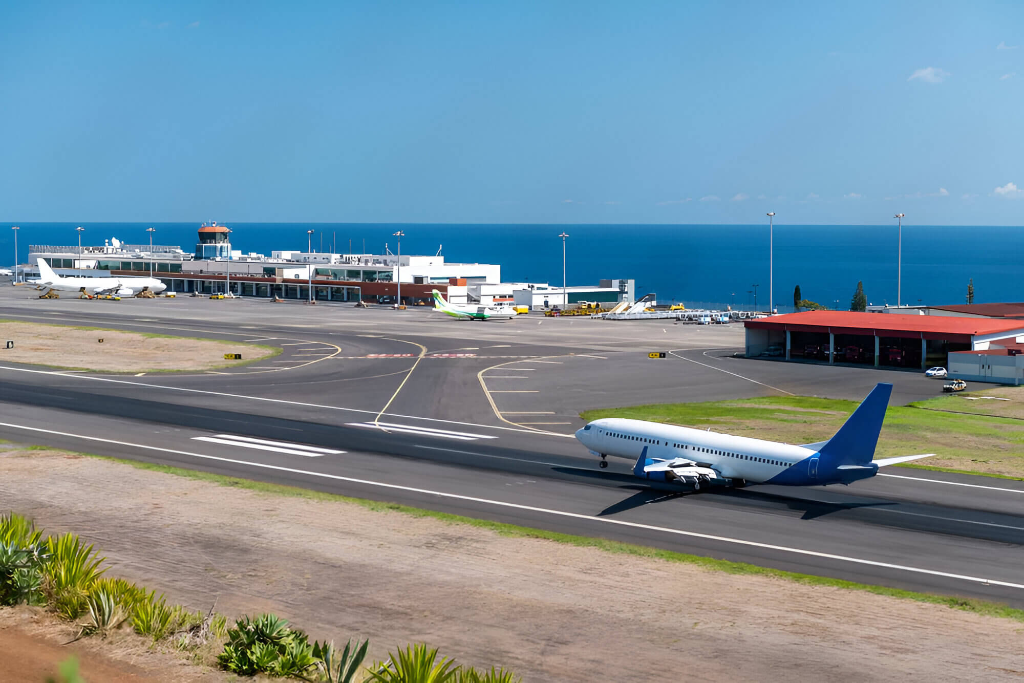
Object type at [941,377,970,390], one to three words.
vehicle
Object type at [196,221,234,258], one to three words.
building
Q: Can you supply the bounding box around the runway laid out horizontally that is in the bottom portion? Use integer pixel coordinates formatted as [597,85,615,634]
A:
[0,361,1024,611]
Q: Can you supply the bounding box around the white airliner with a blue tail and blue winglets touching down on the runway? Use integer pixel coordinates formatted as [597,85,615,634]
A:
[575,381,932,489]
